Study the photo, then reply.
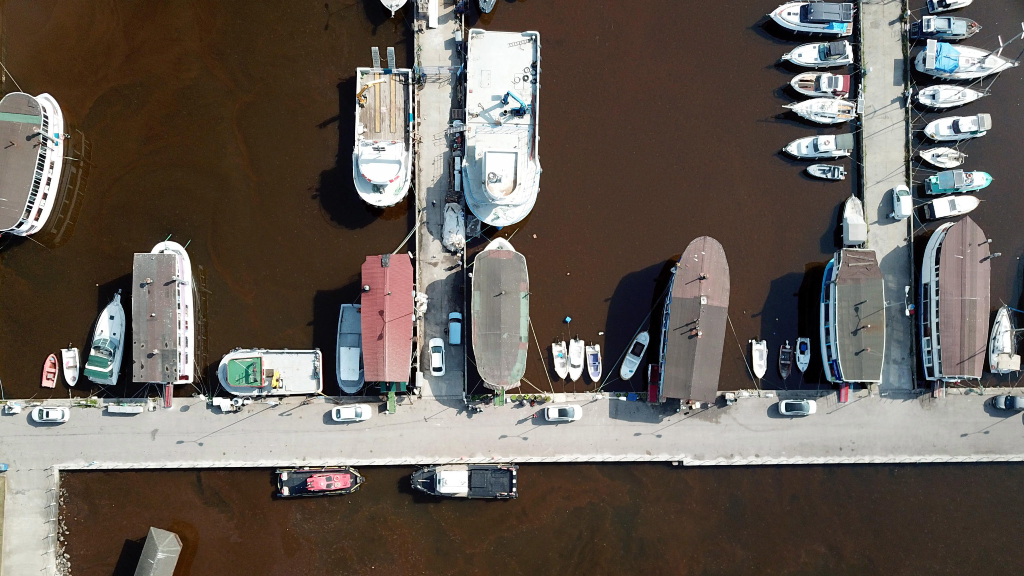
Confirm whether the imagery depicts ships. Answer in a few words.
Yes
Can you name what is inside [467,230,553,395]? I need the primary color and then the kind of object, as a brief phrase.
gray boat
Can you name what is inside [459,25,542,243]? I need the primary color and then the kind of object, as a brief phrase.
white ship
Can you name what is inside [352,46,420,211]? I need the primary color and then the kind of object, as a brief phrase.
white ship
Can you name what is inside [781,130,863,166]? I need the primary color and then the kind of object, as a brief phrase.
white boat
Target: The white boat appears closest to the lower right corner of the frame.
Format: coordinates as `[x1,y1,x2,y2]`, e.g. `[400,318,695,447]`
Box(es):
[986,298,1024,388]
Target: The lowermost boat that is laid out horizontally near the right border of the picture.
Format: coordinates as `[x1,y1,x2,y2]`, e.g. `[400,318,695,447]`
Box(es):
[914,194,987,219]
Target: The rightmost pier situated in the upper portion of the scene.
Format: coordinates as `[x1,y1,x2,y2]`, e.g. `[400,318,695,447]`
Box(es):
[855,0,916,389]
